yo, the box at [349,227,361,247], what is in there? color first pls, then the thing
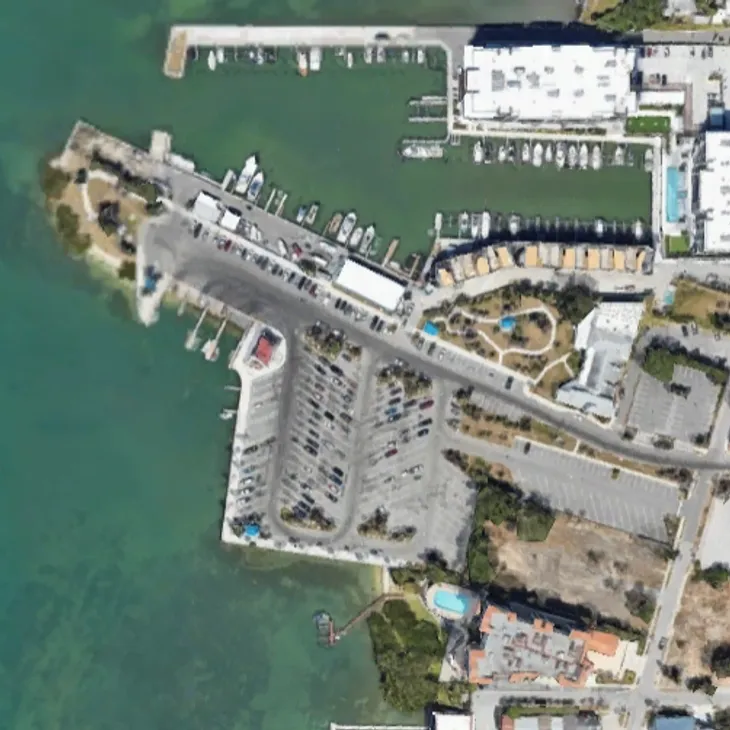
white boat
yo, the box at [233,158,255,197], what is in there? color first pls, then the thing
white boat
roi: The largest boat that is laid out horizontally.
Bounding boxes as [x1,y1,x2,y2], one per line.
[402,145,446,158]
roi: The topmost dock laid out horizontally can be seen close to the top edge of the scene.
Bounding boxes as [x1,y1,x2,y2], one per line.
[164,25,447,79]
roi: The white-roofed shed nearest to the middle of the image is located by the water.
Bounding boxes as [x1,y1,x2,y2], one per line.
[336,259,405,311]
